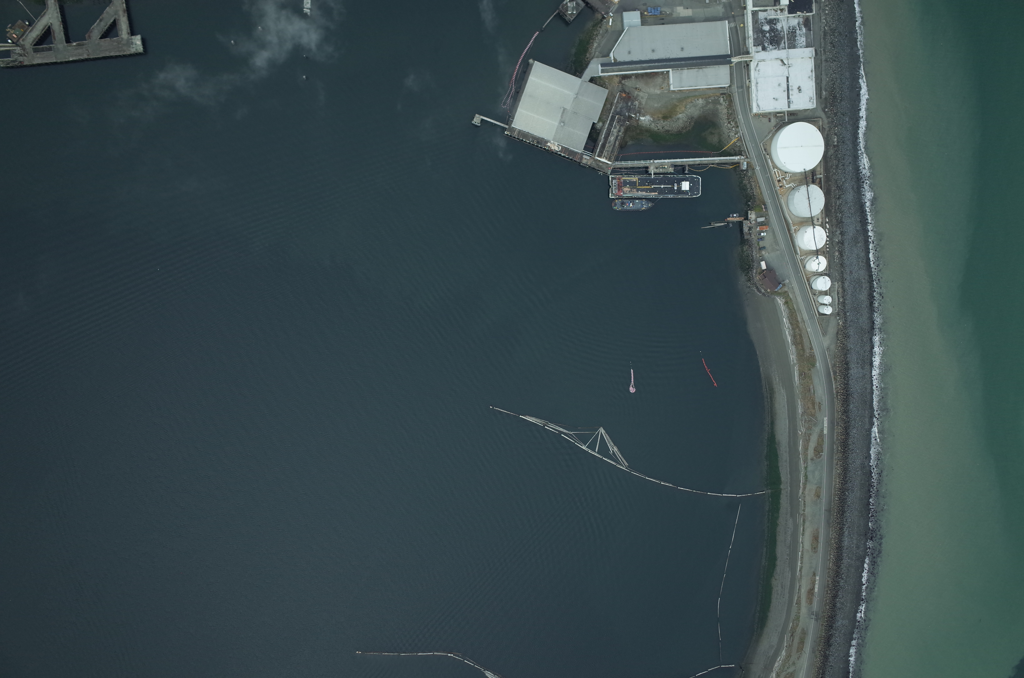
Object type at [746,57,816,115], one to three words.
building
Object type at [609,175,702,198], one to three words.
ship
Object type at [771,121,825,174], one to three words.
storage tank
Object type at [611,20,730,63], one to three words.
building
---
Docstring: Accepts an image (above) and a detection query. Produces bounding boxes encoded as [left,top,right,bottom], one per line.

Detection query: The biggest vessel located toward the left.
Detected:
[6,20,27,42]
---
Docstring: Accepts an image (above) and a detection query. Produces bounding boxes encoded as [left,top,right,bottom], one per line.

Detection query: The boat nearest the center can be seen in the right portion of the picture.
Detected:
[611,198,654,211]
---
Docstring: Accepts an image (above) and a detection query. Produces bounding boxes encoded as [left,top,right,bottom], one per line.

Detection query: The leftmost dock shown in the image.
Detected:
[16,0,143,65]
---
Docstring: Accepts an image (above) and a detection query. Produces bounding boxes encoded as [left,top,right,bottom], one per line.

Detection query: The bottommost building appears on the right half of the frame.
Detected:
[757,269,779,292]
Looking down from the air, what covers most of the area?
water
